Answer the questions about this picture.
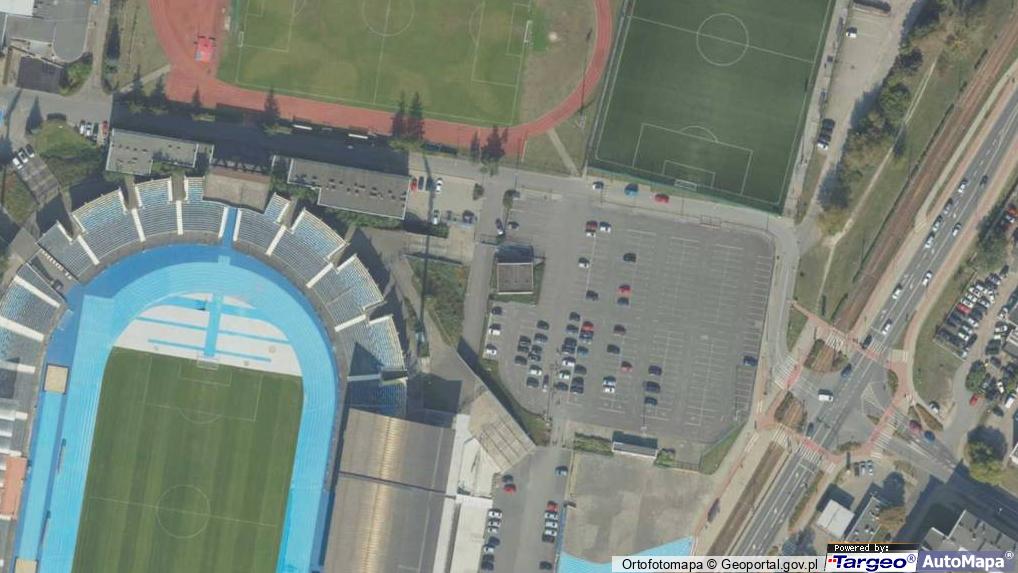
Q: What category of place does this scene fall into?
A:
sports ground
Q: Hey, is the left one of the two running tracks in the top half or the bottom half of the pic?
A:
bottom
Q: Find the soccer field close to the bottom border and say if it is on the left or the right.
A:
left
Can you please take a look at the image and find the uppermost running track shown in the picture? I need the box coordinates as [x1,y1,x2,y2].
[147,0,613,157]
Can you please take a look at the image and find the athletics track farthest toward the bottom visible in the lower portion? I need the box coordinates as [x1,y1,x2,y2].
[10,243,338,573]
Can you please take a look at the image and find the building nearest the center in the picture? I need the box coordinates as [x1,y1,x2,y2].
[497,262,534,295]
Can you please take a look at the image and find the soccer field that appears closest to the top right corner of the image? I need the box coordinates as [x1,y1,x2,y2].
[580,0,838,217]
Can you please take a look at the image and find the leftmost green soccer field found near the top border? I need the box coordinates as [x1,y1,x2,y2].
[235,0,532,122]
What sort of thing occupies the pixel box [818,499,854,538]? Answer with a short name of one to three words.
shed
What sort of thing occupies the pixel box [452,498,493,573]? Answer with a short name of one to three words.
building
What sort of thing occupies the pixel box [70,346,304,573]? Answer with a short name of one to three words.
soccer field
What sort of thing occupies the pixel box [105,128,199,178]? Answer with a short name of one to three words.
building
